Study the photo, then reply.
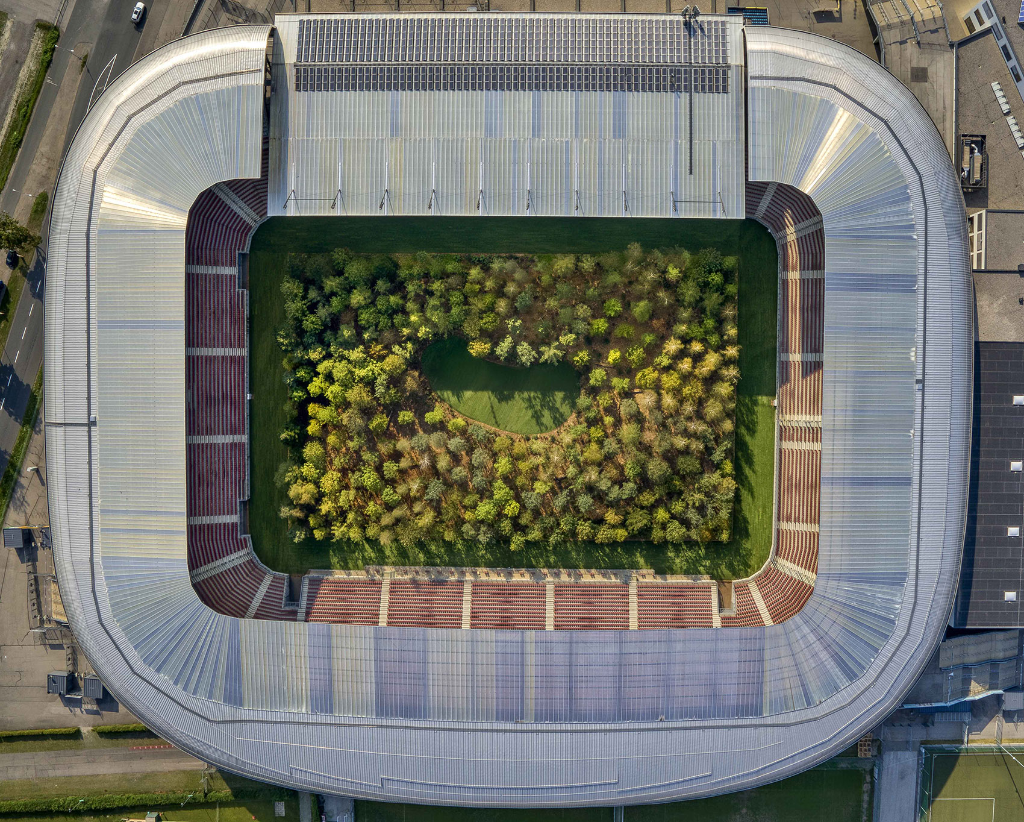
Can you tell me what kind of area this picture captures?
sports ground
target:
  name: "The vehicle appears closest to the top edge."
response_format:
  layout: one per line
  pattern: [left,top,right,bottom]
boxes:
[131,2,146,25]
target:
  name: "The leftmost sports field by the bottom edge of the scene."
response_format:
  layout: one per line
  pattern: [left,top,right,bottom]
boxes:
[356,746,857,822]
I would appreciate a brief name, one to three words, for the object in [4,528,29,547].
shed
